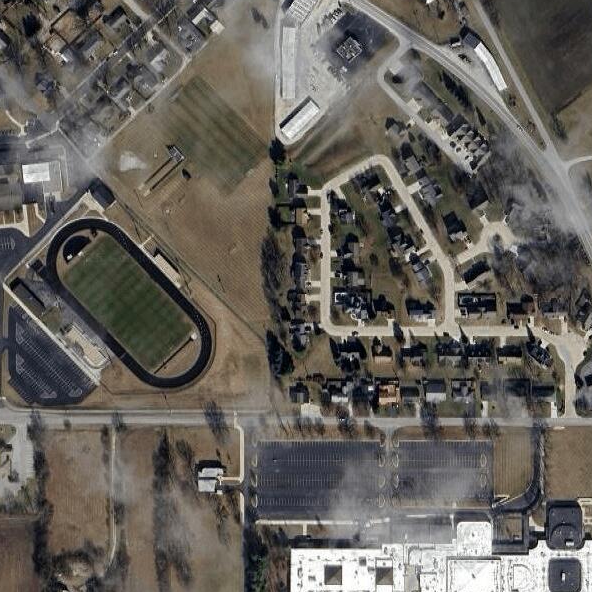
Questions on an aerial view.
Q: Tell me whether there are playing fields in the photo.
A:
Yes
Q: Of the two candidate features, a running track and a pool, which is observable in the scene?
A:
running track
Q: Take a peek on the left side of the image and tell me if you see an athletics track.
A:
Yes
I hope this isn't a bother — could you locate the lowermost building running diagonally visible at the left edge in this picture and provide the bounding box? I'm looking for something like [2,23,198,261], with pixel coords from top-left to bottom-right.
[11,276,46,316]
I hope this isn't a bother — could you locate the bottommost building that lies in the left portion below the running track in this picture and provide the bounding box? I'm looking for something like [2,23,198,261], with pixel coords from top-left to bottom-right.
[198,468,223,494]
